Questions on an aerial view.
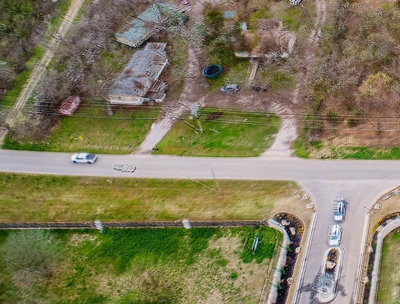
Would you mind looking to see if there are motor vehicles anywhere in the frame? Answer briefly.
Yes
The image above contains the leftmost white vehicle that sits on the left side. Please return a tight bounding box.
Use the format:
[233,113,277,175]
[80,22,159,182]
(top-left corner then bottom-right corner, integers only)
[66,150,99,165]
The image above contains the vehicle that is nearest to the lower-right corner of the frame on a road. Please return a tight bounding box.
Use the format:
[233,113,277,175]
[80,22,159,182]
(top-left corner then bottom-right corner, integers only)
[325,221,344,246]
